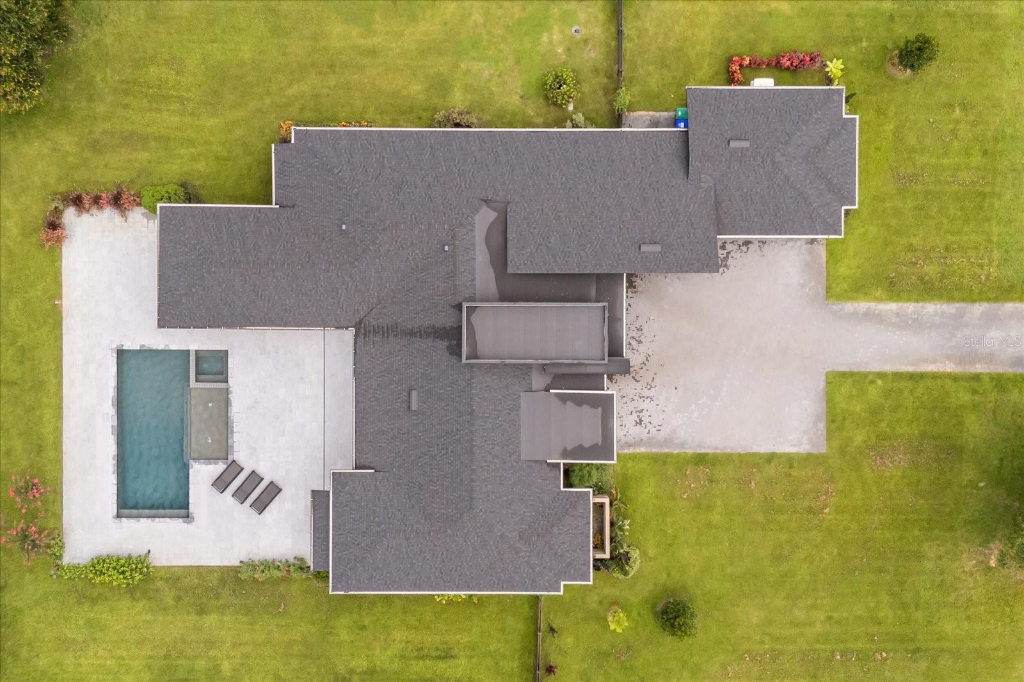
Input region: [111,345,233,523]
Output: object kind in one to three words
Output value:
swimming pool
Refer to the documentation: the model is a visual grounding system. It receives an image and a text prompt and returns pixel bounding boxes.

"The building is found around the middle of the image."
[157,86,859,594]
